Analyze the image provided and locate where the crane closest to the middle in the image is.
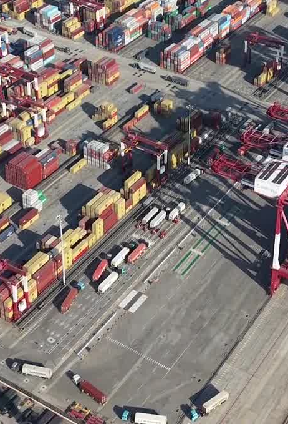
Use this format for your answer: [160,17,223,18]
[123,130,178,186]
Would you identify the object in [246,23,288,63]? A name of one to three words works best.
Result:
crane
